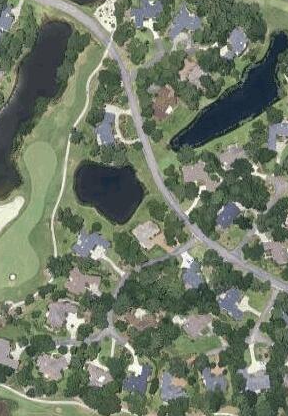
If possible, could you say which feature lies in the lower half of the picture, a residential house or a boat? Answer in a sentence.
Looking in the lower half of the picture, you will find a residential house.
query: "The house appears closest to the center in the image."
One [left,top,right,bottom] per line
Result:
[131,221,161,250]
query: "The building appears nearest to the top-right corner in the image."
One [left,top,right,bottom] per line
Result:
[222,21,253,62]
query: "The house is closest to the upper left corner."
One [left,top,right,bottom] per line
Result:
[0,8,20,43]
